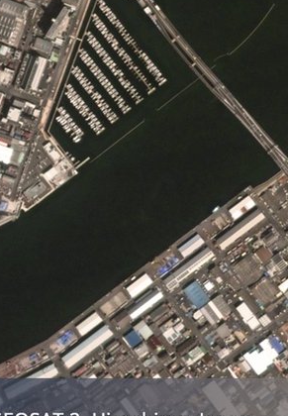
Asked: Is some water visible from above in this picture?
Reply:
Yes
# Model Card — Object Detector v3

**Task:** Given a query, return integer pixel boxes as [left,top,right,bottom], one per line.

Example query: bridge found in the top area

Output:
[151,0,288,177]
